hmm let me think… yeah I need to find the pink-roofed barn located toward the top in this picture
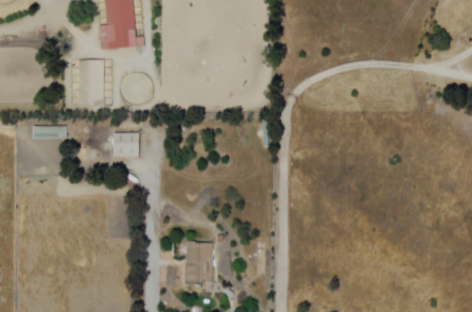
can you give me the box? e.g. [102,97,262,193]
[99,0,146,48]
